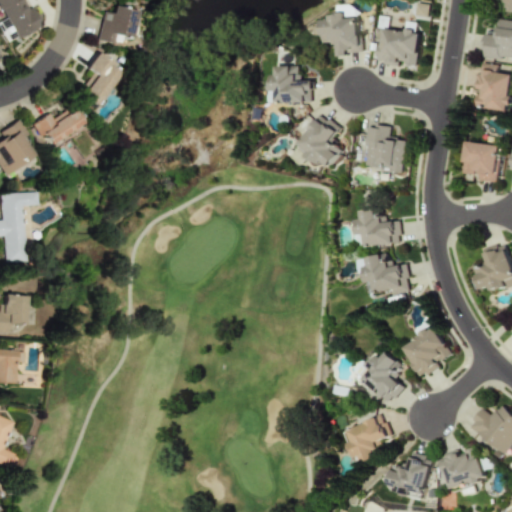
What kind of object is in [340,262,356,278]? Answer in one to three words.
swimming pool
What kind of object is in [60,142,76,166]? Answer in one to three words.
swimming pool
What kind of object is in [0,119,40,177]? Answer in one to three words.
house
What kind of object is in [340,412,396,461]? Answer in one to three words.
house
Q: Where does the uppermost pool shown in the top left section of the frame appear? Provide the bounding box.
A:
[99,94,122,118]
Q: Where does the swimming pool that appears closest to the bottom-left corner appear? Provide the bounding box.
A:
[25,347,39,372]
